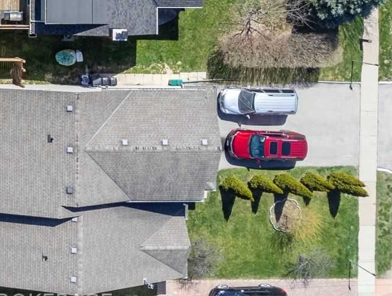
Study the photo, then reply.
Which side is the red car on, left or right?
right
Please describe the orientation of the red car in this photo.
from left to right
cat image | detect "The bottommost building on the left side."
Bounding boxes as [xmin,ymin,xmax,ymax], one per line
[0,79,220,296]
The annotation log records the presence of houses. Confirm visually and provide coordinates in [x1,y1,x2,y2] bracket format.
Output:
[31,0,206,40]
[0,79,220,296]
